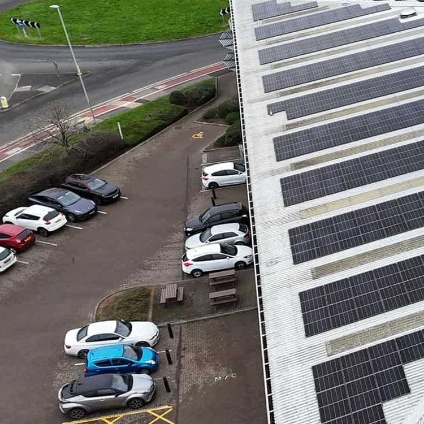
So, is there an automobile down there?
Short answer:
Yes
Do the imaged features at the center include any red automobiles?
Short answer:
No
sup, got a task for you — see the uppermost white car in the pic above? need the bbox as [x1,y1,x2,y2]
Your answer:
[199,162,244,189]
